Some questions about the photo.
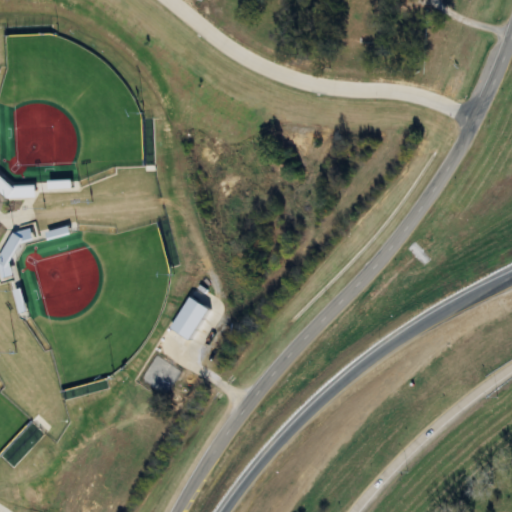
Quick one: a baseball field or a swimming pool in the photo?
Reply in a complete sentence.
The image shows a baseball field.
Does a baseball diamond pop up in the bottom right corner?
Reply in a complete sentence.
No, looking in the bottom right corner, there is no baseball diamond.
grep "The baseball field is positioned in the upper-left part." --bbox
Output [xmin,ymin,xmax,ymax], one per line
[0,35,146,186]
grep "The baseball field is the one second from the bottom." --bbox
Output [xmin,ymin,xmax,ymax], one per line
[18,224,172,390]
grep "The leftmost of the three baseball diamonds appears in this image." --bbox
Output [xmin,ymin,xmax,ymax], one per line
[0,390,30,452]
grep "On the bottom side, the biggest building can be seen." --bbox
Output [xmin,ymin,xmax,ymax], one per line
[170,297,210,340]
